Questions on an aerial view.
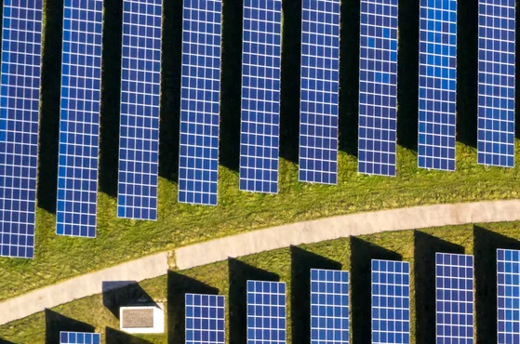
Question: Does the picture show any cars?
No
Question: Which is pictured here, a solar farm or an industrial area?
solar farm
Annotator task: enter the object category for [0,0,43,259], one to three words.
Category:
solar array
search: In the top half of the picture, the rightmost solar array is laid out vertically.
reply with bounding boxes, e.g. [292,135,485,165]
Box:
[477,0,515,169]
